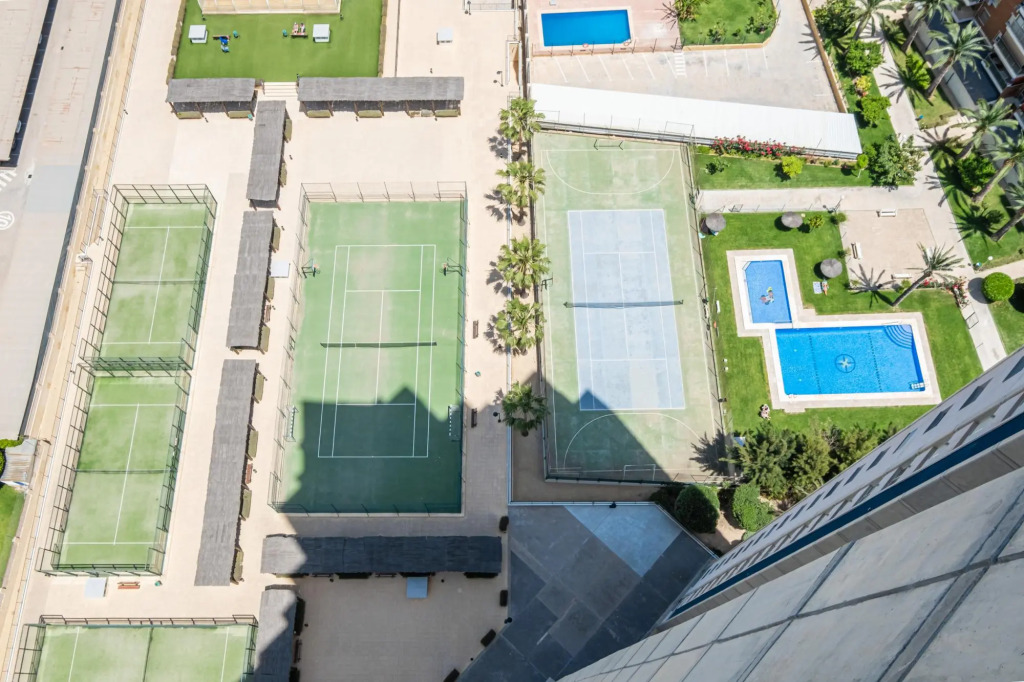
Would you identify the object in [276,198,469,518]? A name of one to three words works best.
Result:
tennis court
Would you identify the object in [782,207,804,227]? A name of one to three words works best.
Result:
umbrella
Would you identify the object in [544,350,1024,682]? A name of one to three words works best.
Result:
building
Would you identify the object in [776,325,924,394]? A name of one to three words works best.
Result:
swimming pool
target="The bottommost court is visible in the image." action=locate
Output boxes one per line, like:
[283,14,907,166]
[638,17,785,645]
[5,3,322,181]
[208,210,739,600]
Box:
[32,625,260,682]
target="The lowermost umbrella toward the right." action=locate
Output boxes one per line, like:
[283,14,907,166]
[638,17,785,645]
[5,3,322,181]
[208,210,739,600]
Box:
[821,257,845,278]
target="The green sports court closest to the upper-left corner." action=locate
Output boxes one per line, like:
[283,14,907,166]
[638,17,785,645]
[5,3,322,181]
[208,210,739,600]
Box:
[93,201,217,372]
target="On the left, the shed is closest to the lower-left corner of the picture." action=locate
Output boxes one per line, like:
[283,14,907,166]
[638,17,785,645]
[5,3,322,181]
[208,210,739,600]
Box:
[2,441,47,484]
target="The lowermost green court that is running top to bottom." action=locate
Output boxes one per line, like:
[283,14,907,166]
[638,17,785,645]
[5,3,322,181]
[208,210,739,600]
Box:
[56,376,193,577]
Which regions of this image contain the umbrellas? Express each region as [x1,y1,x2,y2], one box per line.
[821,257,845,278]
[706,209,729,230]
[782,207,804,227]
